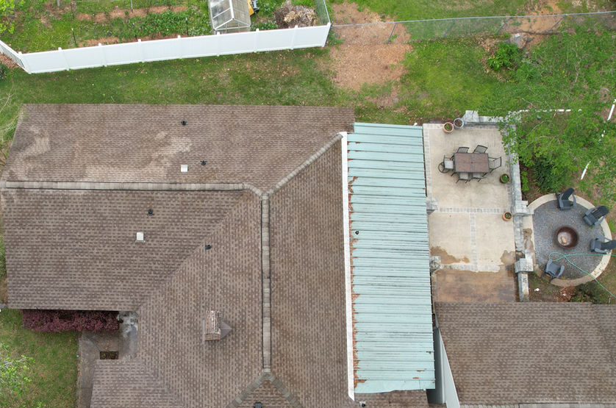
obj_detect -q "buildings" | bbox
[213,0,253,34]
[0,102,434,408]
